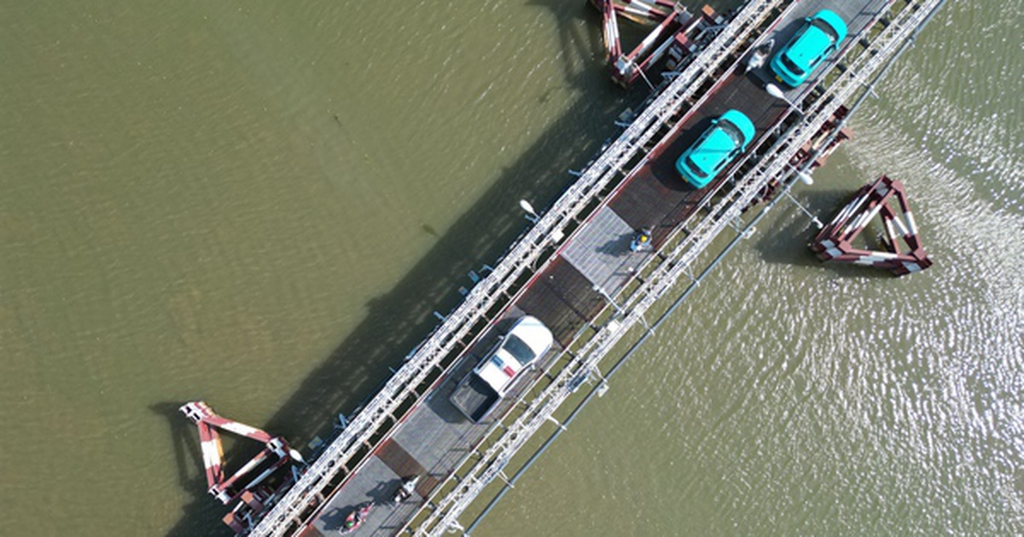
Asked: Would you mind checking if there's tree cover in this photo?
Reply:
No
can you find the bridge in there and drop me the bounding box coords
[247,0,935,537]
